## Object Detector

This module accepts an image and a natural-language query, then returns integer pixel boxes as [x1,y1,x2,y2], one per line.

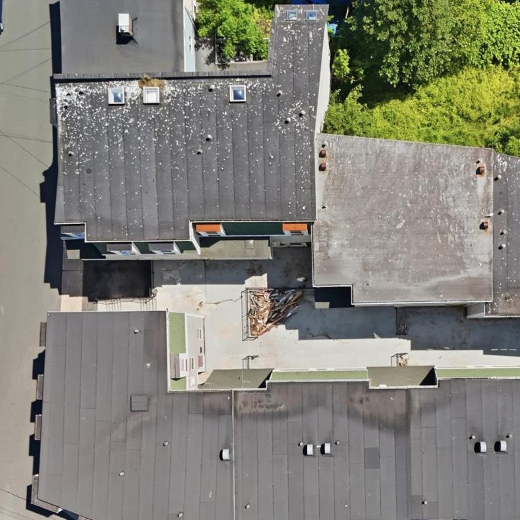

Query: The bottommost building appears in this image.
[31,311,520,520]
